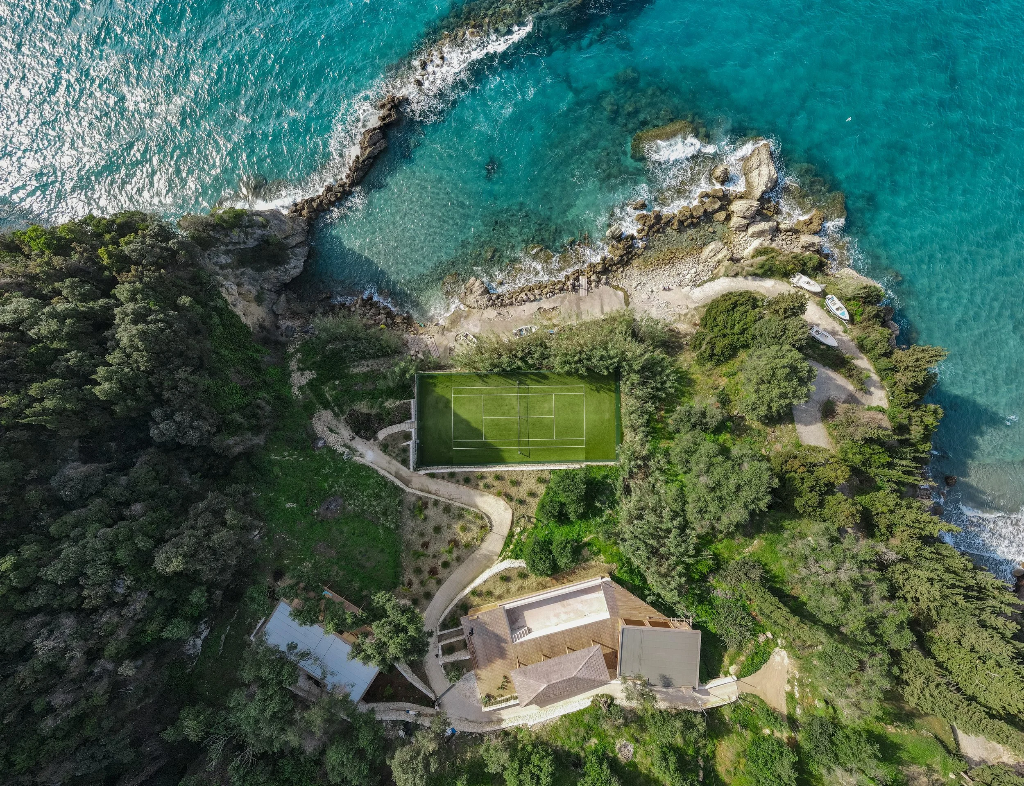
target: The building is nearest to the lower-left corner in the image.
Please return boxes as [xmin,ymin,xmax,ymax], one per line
[258,598,381,706]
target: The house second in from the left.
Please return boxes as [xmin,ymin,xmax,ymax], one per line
[510,639,611,708]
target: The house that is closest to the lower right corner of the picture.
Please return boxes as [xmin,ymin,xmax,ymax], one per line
[614,617,701,690]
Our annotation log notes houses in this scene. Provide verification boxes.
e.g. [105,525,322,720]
[510,639,611,708]
[614,617,701,690]
[258,598,381,706]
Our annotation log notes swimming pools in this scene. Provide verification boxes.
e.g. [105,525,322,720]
[501,577,611,644]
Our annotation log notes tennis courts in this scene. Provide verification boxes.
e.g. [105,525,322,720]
[416,370,620,467]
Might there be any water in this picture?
Yes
